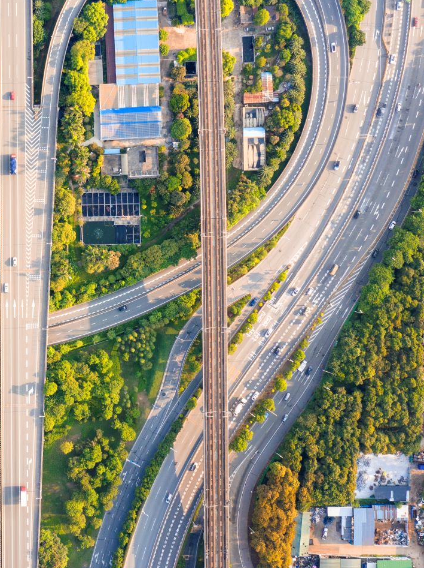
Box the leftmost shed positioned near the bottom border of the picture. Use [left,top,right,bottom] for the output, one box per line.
[289,509,311,556]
